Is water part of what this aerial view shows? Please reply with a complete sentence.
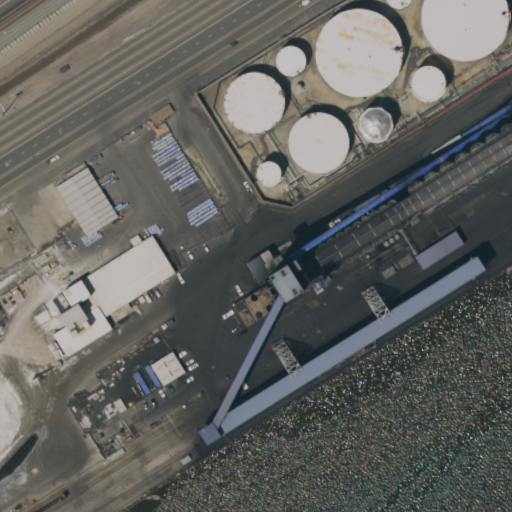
Yes, there's water in this view.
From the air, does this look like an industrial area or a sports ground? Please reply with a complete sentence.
What you see here is an industrial area.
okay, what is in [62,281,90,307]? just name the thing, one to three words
building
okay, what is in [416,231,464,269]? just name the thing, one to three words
shed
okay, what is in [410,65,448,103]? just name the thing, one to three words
storage tank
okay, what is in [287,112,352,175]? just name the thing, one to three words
storage tank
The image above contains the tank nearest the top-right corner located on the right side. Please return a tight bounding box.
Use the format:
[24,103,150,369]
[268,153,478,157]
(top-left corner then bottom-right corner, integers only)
[420,0,510,63]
